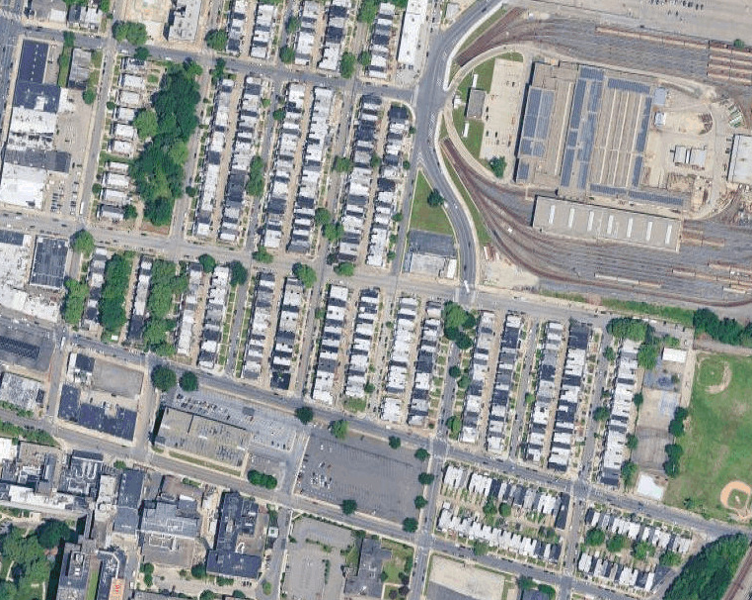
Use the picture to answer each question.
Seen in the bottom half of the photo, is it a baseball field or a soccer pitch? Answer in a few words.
baseball field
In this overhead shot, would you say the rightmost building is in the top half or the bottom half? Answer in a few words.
top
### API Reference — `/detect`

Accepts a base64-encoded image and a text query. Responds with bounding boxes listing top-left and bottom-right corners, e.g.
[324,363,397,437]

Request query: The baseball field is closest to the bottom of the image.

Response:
[721,480,752,519]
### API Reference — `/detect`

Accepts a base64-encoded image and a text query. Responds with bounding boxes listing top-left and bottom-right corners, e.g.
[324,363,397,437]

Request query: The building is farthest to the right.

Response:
[727,136,752,188]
